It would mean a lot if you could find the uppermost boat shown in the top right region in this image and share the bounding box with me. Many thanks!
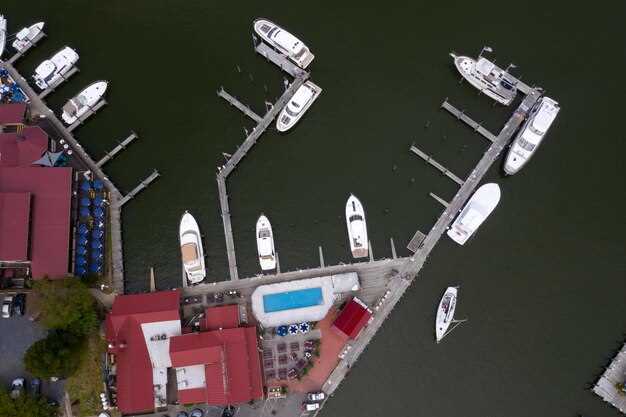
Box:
[450,54,518,105]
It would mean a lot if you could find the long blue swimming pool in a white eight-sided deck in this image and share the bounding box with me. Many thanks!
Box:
[252,276,334,325]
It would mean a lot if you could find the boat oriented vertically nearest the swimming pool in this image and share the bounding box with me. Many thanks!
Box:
[256,215,277,275]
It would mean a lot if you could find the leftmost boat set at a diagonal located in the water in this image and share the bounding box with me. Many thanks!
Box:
[5,22,50,52]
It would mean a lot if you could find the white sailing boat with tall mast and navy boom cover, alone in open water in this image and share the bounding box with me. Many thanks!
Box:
[436,287,464,342]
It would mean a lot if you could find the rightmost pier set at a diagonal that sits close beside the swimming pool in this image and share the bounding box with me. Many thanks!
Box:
[321,64,545,397]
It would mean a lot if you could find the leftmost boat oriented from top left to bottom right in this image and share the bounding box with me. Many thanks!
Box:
[254,21,315,68]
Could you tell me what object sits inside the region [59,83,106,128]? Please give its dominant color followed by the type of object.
white boat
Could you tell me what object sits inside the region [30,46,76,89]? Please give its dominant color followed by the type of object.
white boat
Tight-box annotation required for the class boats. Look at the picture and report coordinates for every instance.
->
[0,13,7,59]
[504,94,564,176]
[30,46,76,89]
[345,194,369,259]
[256,215,277,275]
[5,22,50,52]
[254,21,315,68]
[279,83,322,131]
[450,54,518,105]
[180,209,207,285]
[59,83,106,128]
[436,287,464,342]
